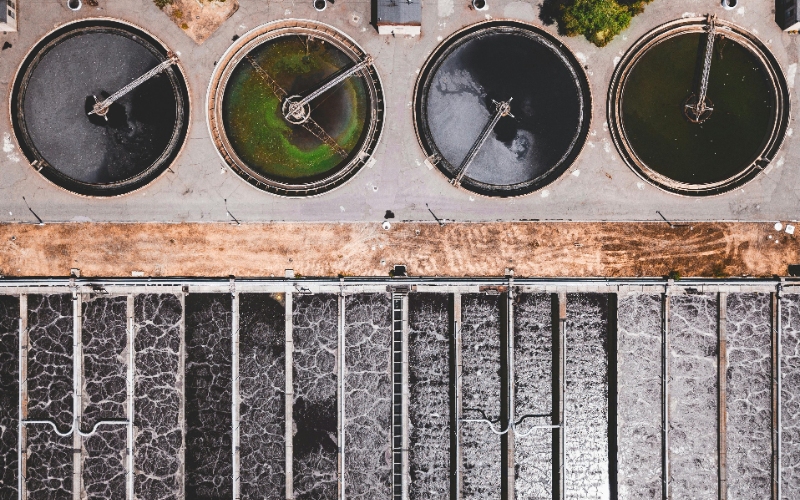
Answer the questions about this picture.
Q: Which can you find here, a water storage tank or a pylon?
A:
water storage tank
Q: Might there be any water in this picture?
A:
Yes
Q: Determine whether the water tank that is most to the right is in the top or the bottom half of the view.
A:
top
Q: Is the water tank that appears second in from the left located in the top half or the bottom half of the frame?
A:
top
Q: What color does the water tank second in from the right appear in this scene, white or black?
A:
black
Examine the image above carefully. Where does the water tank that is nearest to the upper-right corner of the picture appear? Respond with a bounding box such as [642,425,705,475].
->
[607,16,789,198]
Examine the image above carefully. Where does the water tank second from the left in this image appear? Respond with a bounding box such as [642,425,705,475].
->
[205,18,386,198]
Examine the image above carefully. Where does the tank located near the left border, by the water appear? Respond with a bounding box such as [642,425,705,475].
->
[10,17,191,197]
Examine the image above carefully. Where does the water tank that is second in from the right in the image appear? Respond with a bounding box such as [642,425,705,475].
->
[412,18,593,198]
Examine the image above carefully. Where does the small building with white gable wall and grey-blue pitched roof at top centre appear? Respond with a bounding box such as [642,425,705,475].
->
[377,0,423,34]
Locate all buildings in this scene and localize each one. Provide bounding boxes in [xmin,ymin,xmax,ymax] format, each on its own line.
[0,0,17,31]
[377,0,423,34]
[783,0,800,30]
